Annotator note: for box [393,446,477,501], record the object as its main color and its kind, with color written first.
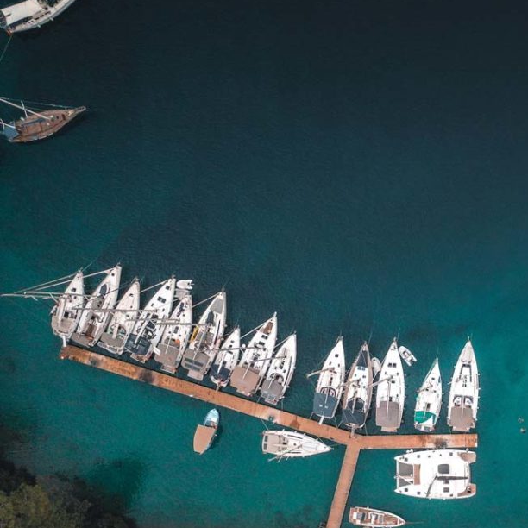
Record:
white boat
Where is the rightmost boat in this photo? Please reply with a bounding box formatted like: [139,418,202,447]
[445,330,482,432]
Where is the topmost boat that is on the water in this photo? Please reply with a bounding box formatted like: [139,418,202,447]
[0,0,81,60]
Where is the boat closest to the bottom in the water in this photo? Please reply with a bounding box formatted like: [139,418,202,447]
[345,506,406,528]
